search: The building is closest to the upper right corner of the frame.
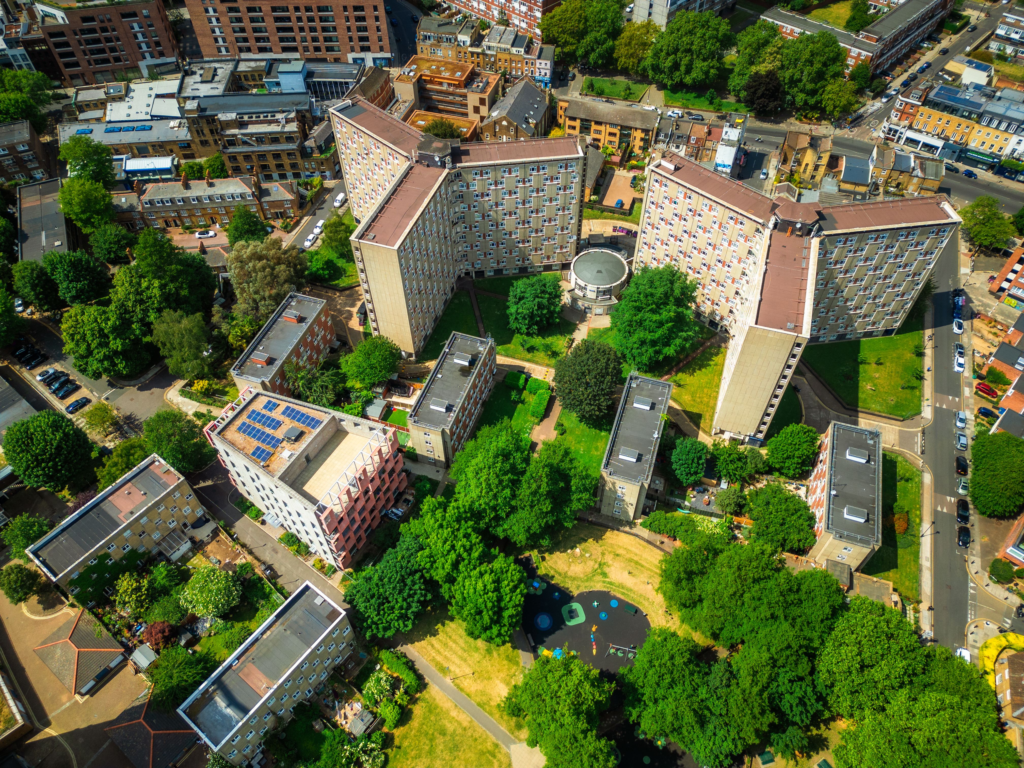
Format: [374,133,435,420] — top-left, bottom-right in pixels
[986,8,1024,59]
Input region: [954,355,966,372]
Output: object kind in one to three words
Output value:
vehicle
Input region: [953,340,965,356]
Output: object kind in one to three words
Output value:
vehicle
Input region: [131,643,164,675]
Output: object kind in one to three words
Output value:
shed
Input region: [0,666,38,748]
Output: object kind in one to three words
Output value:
building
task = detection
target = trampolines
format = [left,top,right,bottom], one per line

[567,608,579,619]
[390,379,410,398]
